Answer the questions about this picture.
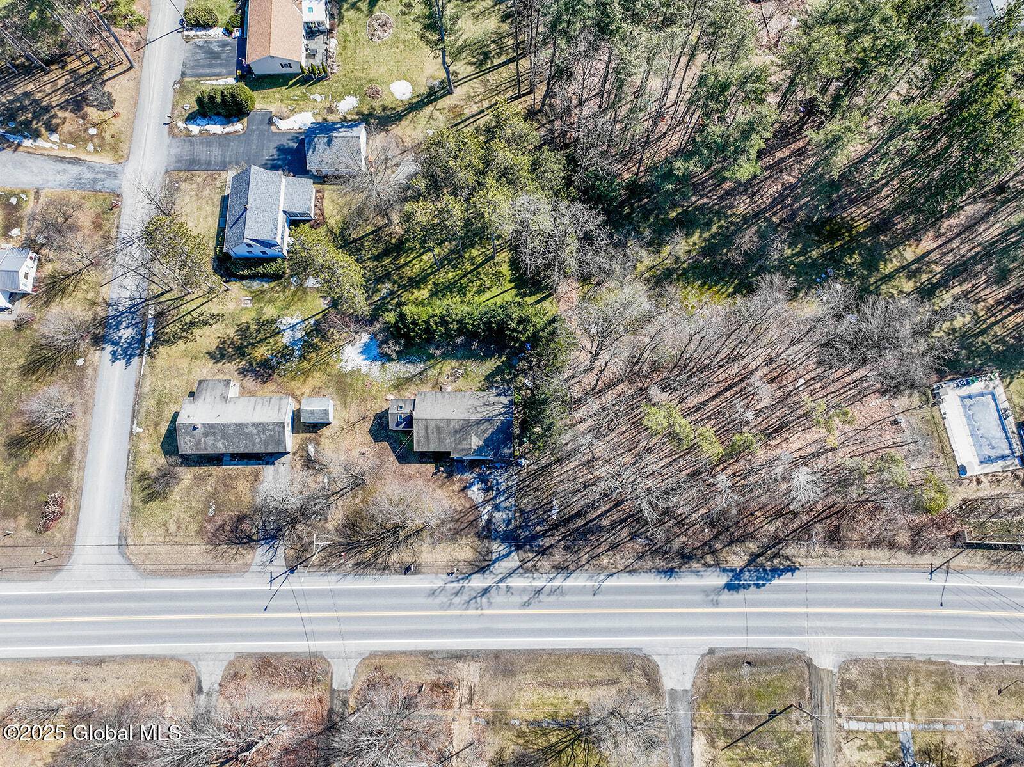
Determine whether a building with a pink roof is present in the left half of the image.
No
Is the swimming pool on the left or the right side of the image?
right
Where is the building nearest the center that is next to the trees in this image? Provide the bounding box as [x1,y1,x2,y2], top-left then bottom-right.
[388,392,513,459]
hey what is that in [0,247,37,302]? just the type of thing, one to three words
house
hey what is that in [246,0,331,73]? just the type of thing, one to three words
house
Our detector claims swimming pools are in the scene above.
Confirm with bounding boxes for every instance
[932,376,1024,477]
